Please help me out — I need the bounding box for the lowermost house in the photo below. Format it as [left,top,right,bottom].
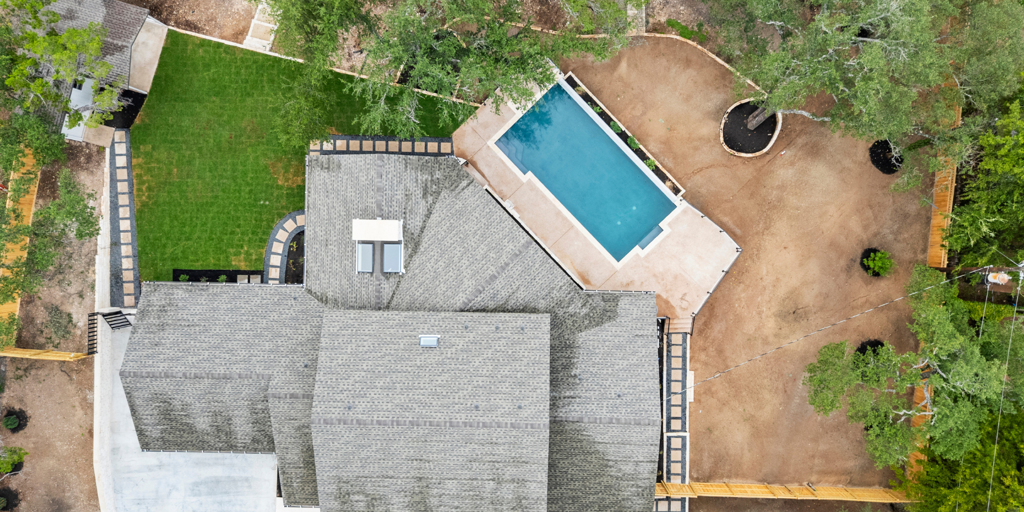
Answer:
[120,153,663,512]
